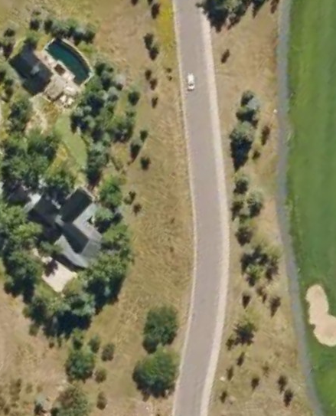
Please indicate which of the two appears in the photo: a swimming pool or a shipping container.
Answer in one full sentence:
This aerial view contains a swimming pool.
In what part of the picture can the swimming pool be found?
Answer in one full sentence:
Look in the top left portion of the view to spot the swimming pool.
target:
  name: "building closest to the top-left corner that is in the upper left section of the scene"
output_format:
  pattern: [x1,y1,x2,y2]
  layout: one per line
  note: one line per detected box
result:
[7,43,54,92]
